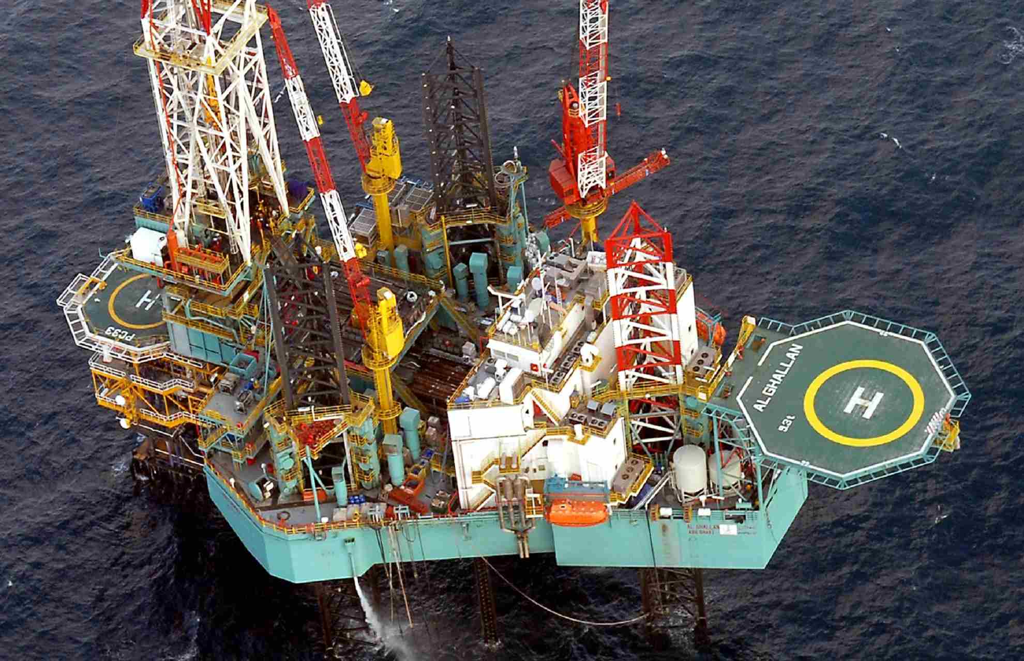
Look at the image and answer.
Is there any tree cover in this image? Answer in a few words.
No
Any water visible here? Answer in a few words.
Yes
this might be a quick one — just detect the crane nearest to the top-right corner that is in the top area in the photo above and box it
[542,0,620,249]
